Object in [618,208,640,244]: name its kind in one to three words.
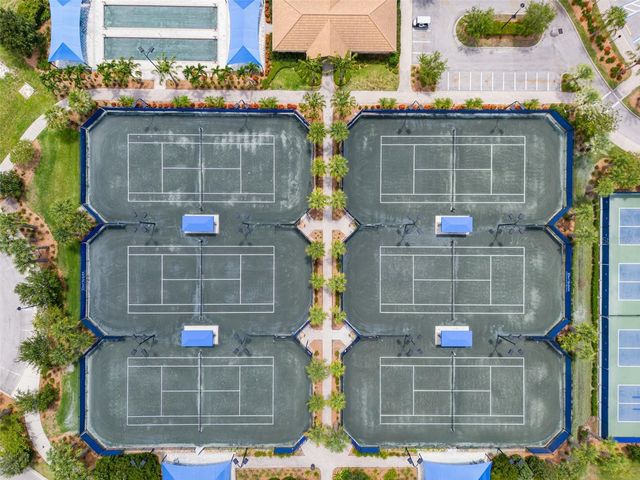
sports court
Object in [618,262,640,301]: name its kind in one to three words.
sports court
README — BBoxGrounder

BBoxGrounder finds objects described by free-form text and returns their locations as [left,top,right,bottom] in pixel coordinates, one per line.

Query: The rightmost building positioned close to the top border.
[273,0,396,64]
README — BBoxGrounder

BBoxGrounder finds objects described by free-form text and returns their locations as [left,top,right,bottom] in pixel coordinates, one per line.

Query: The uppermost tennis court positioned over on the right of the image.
[344,111,566,225]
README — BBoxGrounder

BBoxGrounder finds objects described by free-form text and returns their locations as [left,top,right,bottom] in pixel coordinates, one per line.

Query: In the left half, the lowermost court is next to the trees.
[86,336,312,449]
